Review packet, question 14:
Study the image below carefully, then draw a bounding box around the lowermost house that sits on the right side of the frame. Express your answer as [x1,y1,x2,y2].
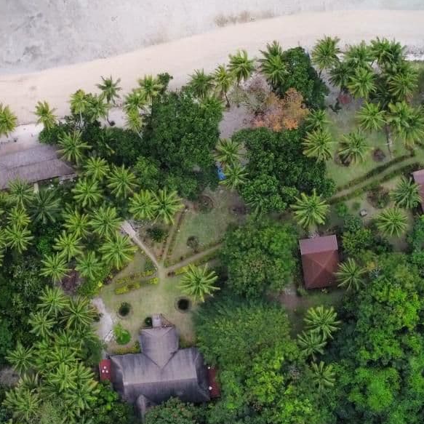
[298,235,341,290]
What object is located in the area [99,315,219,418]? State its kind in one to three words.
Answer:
house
